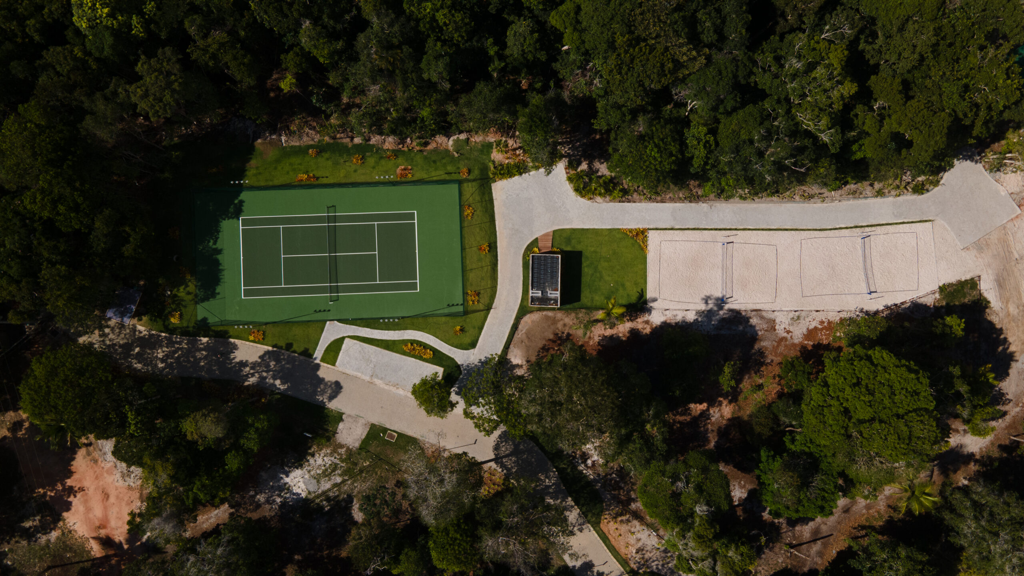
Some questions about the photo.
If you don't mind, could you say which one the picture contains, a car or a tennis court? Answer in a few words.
tennis court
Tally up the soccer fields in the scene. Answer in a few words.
0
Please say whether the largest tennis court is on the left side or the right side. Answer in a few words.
left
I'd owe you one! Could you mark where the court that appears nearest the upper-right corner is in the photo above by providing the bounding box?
[789,221,938,310]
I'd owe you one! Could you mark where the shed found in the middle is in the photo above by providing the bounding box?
[529,255,560,307]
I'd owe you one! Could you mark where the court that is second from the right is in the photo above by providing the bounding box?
[647,230,789,310]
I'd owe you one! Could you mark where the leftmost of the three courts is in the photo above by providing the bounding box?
[196,183,463,326]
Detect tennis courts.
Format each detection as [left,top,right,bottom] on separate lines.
[789,221,938,310]
[647,230,789,310]
[196,183,463,326]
